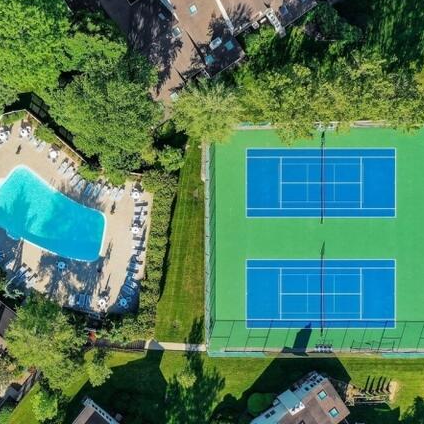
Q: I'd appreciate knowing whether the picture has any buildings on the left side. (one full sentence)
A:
Yes, you'll find a building on the left side.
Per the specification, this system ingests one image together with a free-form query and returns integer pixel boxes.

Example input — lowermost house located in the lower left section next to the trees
[68,392,122,424]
